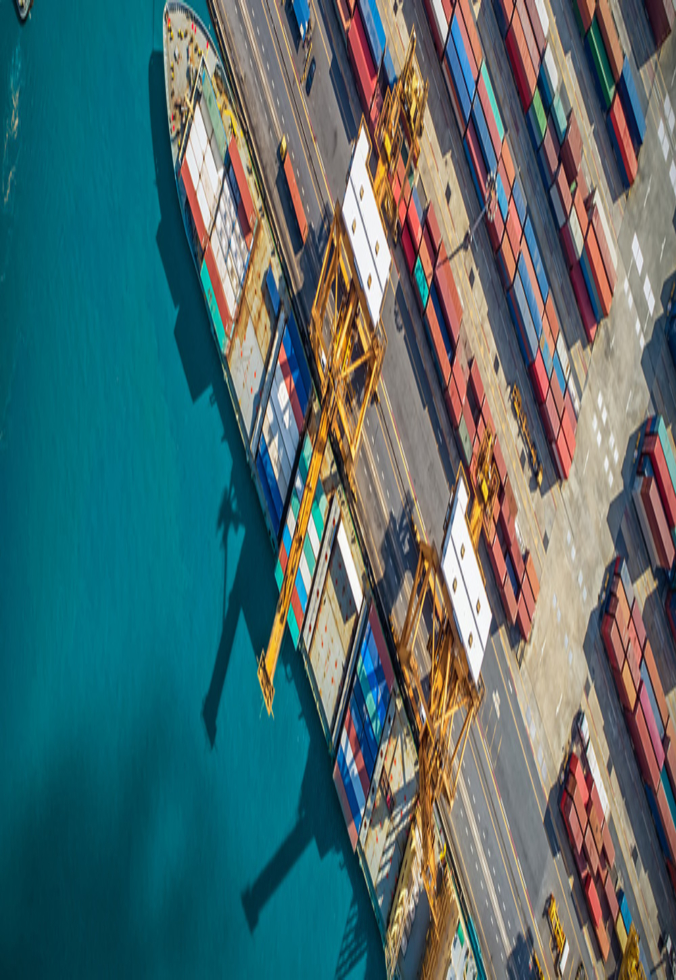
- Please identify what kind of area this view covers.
port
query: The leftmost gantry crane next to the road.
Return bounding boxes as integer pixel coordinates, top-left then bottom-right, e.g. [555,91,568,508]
[252,14,426,717]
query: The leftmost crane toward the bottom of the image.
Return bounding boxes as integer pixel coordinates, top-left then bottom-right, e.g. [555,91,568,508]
[391,421,509,979]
